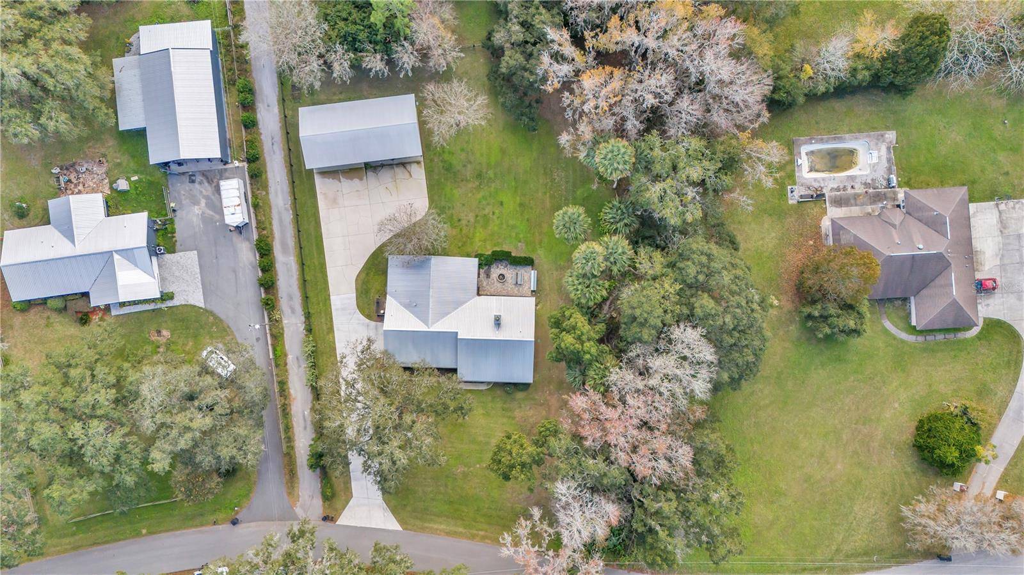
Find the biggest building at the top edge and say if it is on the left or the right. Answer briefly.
left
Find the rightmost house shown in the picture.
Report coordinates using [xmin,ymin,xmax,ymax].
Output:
[826,185,978,331]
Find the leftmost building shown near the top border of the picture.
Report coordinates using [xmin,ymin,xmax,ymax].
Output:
[113,20,231,165]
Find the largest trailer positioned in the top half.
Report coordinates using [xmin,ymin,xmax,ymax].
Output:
[219,178,250,238]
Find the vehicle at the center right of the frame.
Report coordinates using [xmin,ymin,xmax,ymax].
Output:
[974,277,998,294]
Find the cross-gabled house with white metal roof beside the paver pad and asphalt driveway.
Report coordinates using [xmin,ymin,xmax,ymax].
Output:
[0,193,167,306]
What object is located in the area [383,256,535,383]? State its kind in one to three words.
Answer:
house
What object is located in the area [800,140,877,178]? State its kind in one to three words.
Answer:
swimming pool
